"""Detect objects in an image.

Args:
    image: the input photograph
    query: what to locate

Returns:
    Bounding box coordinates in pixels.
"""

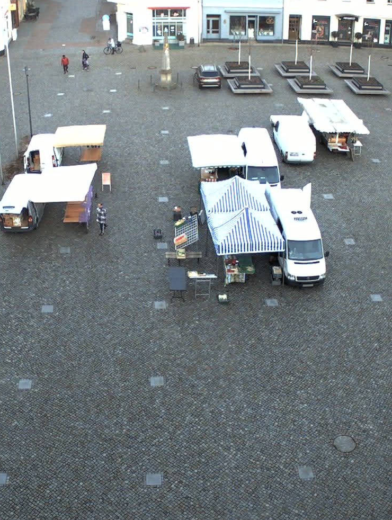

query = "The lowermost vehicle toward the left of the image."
[0,164,101,233]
